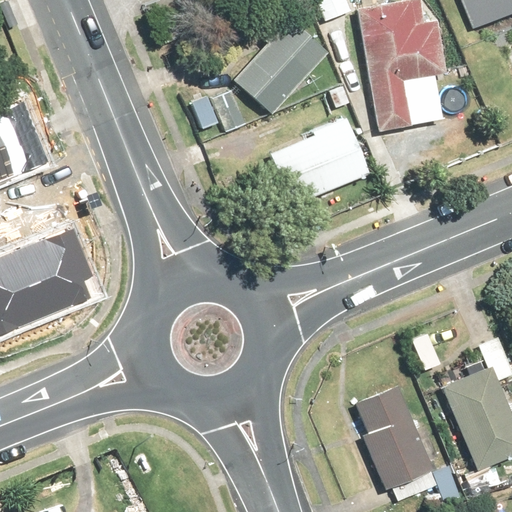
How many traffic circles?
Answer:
1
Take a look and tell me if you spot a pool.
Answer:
No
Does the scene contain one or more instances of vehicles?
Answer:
Yes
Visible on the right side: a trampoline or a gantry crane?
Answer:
trampoline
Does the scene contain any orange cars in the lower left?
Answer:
No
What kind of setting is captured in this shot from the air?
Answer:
residential area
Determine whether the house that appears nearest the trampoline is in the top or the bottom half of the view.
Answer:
top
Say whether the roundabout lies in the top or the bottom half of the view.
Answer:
bottom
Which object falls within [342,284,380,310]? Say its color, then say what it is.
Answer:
white truck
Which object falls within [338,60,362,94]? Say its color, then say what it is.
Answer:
white car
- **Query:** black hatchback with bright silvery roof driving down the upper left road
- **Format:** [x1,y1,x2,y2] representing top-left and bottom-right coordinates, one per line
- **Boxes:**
[80,14,103,50]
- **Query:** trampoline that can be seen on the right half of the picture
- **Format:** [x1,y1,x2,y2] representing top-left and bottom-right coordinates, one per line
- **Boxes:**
[440,86,467,114]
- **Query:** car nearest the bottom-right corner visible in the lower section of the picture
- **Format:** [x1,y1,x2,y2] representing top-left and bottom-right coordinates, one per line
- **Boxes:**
[428,325,459,344]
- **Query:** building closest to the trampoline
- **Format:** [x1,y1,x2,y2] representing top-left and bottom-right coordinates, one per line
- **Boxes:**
[358,0,447,135]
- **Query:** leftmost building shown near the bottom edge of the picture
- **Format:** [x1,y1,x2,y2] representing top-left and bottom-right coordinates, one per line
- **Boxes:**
[354,385,437,501]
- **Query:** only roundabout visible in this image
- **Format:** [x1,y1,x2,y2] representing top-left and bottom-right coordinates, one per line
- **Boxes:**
[170,302,244,376]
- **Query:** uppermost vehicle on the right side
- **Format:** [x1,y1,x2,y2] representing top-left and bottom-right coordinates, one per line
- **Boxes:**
[328,27,352,64]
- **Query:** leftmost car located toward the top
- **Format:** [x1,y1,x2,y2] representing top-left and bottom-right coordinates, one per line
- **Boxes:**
[6,182,37,200]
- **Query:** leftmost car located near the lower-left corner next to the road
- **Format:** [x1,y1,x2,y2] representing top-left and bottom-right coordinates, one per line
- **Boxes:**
[0,444,28,466]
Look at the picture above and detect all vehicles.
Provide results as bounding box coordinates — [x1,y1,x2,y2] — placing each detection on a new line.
[80,14,103,50]
[6,182,37,200]
[342,284,380,310]
[428,325,459,344]
[0,444,28,466]
[30,500,65,512]
[503,172,512,188]
[338,60,362,94]
[502,236,512,253]
[40,166,74,186]
[434,201,460,218]
[198,72,233,92]
[328,27,352,64]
